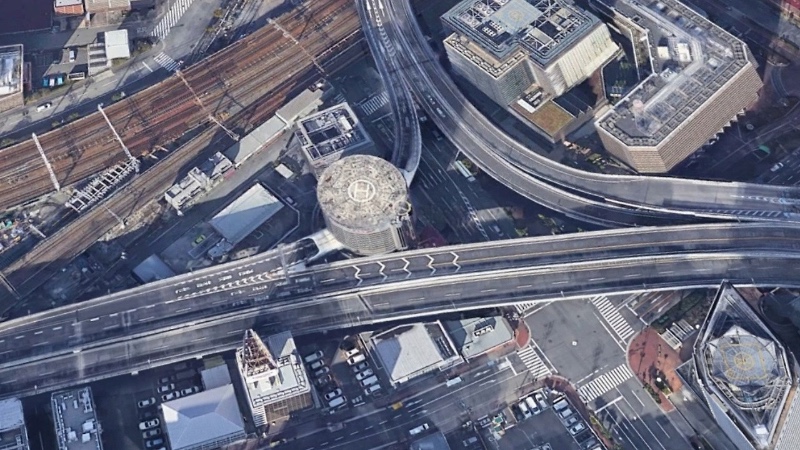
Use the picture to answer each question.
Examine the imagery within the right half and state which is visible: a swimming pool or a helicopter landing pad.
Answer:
helicopter landing pad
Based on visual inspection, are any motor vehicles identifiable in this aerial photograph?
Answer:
Yes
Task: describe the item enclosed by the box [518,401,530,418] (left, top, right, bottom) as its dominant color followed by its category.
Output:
white vehicle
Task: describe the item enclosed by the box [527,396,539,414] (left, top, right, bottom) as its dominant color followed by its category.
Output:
white vehicle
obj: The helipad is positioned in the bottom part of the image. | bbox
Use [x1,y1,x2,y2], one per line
[710,330,777,390]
